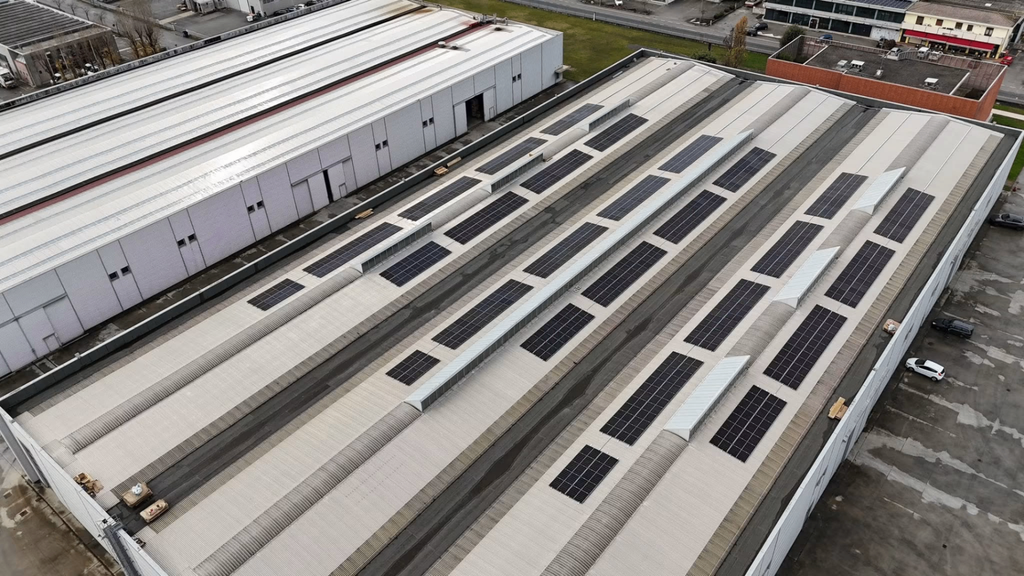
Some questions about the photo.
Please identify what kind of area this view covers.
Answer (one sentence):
It's an industrial area.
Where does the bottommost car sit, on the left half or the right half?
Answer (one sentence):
The bottommost car appears in the right half of the scene.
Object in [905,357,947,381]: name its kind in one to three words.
car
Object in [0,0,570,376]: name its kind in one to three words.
warehouse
